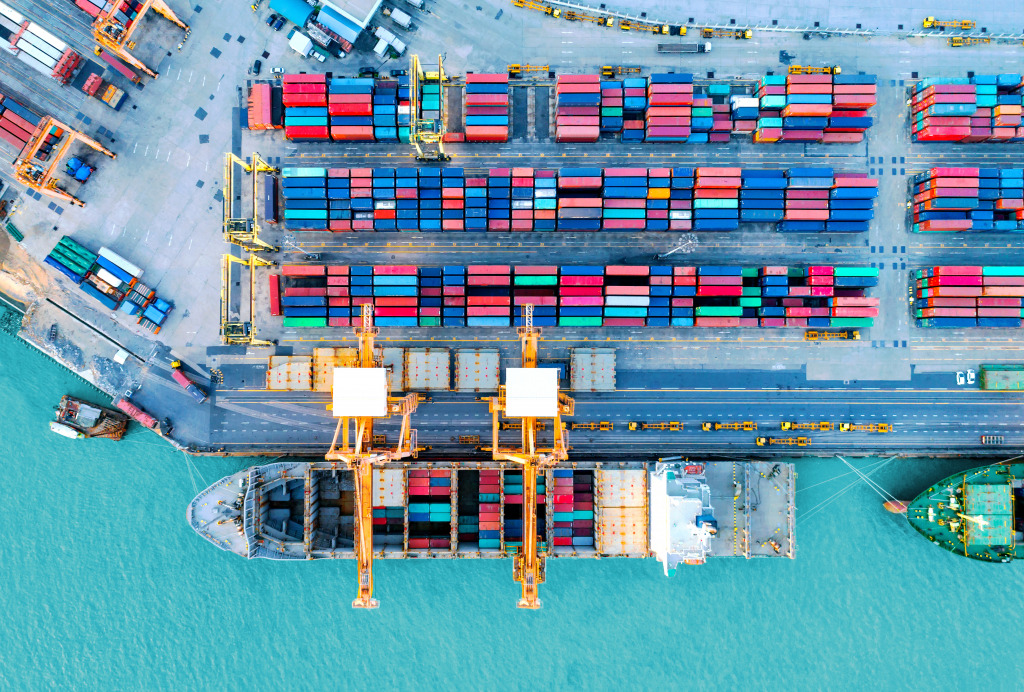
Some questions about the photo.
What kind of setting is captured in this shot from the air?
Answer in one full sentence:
The area seen from above is a port.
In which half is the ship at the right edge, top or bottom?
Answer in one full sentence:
Seen from above, the ship at the right edge lies in the bottom half of the view.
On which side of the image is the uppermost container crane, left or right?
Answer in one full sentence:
The uppermost container crane sits on the left side.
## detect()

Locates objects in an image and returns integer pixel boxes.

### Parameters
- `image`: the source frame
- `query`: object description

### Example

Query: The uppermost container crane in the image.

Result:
[88,0,194,79]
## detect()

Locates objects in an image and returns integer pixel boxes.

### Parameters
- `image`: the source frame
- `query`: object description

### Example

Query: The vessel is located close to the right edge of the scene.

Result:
[884,458,1024,564]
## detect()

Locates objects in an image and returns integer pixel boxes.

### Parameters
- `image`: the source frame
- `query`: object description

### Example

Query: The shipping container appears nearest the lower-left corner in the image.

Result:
[118,399,160,428]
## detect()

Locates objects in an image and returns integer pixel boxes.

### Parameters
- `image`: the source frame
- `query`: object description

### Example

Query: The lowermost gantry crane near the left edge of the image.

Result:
[6,115,121,209]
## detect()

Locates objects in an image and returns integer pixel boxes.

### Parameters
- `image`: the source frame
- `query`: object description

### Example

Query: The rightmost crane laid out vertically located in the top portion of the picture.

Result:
[406,51,453,160]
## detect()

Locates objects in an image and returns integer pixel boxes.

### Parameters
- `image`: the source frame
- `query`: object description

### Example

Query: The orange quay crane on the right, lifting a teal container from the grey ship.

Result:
[481,303,584,607]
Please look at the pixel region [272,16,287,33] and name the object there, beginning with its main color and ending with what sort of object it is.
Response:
blue car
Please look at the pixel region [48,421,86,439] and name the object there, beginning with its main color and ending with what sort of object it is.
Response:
white boat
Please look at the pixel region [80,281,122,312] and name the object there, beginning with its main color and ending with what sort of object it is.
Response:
blue shipping container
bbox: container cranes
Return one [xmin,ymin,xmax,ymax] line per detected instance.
[220,256,280,344]
[6,115,121,209]
[406,51,453,160]
[222,151,283,252]
[326,303,434,607]
[481,303,584,607]
[88,0,194,79]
